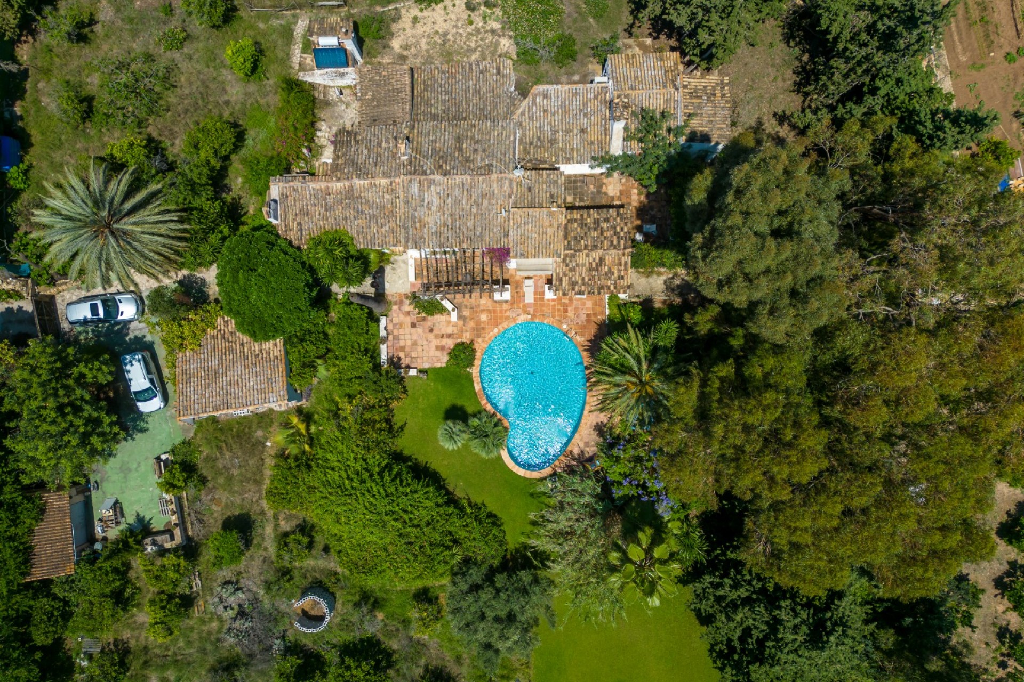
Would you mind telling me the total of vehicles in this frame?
2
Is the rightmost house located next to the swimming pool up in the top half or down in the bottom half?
top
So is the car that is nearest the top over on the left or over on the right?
left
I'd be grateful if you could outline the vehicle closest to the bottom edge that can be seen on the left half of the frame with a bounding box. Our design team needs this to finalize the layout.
[120,349,172,414]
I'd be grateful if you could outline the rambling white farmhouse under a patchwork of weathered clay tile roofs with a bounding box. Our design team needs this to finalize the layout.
[264,49,732,296]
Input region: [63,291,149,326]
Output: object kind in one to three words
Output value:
car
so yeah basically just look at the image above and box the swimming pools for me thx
[480,321,587,470]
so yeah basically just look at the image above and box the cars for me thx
[63,291,149,326]
[120,349,172,414]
